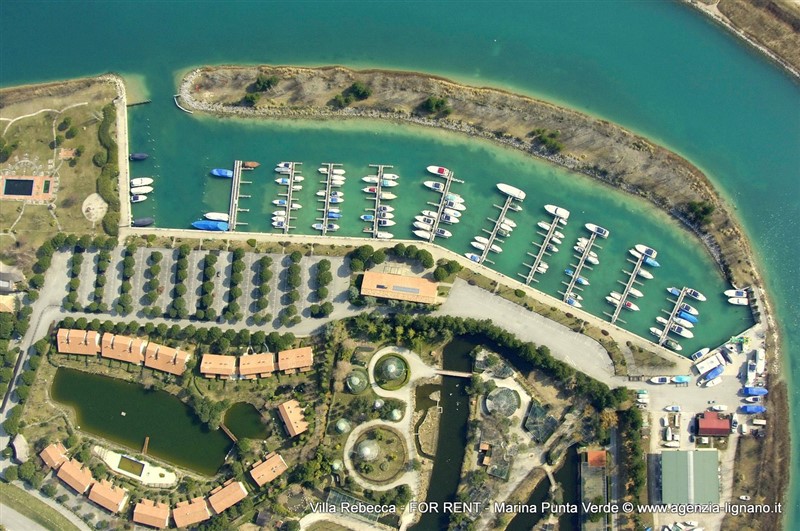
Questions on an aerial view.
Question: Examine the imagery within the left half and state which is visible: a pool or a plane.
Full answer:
It is a pool that can be seen within the left half.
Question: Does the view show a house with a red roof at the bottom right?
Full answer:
Yes, you'll find a house with a red roof at the bottom right.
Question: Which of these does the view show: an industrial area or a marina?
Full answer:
It's a marina.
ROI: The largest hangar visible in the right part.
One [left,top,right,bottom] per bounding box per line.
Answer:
[658,447,719,504]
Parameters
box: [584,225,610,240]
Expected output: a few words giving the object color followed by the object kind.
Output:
white boat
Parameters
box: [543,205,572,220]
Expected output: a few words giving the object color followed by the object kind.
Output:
white boat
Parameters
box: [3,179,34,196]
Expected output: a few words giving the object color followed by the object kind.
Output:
black swimming pool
